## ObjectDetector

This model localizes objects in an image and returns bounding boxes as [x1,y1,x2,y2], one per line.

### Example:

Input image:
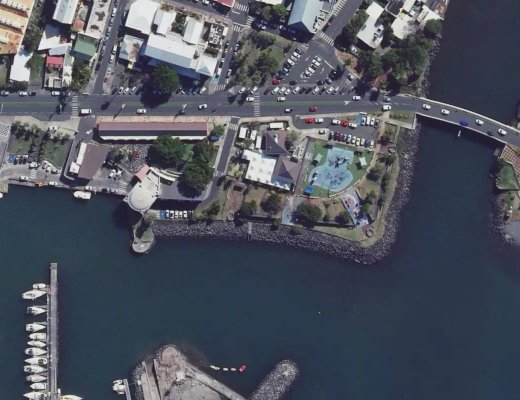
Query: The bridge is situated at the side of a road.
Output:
[416,97,520,151]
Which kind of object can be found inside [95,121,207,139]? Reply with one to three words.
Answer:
building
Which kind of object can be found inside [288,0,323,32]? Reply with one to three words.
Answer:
building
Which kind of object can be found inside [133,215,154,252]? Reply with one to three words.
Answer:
pier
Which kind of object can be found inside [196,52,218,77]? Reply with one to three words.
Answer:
house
